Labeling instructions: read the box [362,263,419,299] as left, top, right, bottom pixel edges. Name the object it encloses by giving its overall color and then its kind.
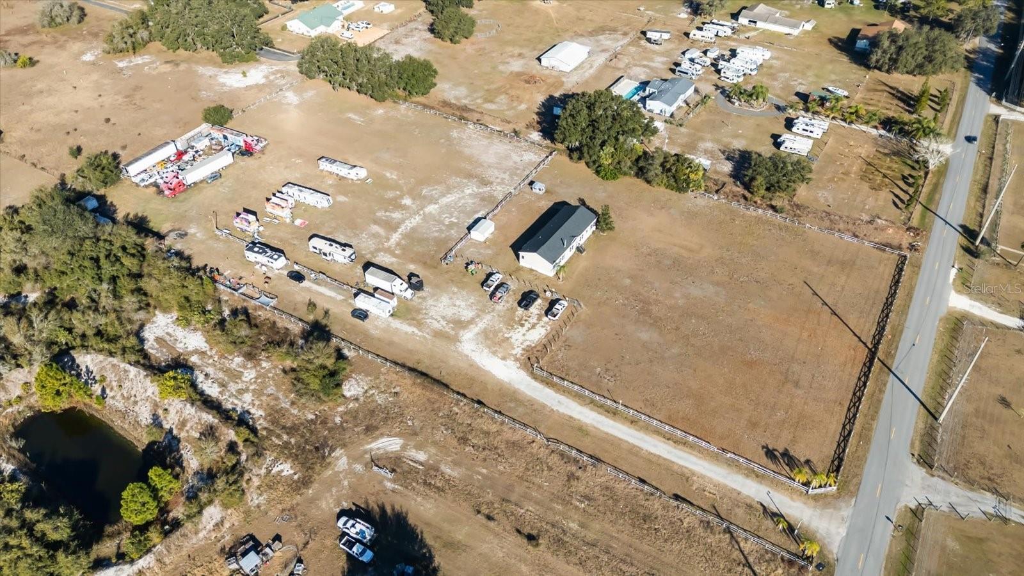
white truck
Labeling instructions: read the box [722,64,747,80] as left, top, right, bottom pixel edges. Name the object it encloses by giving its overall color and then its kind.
white camper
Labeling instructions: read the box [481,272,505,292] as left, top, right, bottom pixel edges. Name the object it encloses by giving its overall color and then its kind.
white vehicle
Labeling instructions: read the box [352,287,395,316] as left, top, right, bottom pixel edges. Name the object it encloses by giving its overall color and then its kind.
white trailer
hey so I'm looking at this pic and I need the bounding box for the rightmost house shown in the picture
[856,23,934,51]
